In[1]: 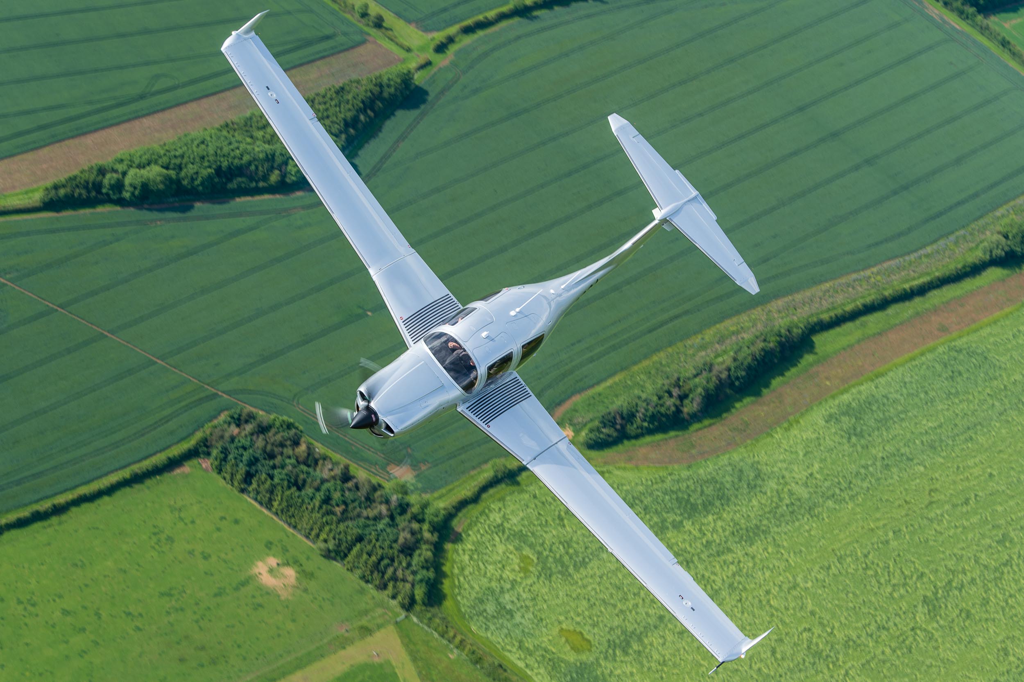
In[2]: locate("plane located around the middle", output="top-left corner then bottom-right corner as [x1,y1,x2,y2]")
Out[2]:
[220,8,776,679]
